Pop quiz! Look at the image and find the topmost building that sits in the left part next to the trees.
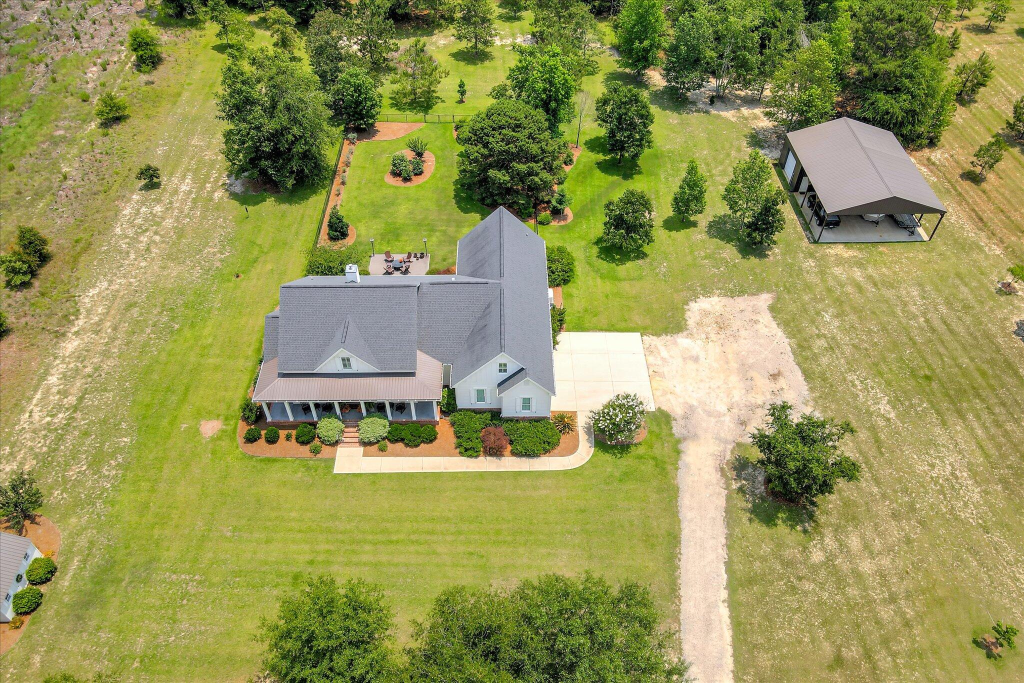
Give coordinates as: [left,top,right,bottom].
[250,206,558,447]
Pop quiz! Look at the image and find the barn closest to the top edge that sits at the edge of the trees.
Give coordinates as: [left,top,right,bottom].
[779,116,947,242]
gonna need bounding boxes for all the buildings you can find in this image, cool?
[0,525,42,621]
[779,116,947,242]
[250,206,558,447]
